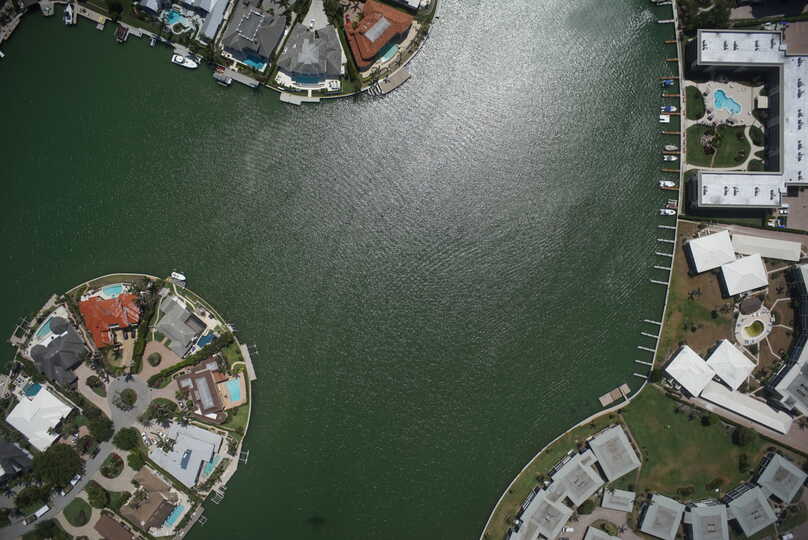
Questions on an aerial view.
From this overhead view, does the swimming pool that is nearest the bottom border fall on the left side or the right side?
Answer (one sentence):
The swimming pool that is nearest the bottom border sits on the left side.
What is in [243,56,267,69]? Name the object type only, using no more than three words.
swimming pool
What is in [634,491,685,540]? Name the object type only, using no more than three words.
building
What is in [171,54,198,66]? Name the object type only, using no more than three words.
boat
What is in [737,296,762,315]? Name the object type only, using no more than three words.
gazebo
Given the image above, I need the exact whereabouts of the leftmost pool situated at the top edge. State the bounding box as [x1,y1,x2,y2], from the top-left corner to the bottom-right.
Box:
[167,10,185,24]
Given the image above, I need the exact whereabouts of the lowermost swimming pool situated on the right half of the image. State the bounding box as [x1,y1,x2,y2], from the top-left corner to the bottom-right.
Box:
[744,320,765,337]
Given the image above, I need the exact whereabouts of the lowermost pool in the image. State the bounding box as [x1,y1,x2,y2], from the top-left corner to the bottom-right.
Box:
[164,504,185,528]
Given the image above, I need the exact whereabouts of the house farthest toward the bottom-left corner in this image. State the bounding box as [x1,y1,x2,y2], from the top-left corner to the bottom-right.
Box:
[0,441,37,475]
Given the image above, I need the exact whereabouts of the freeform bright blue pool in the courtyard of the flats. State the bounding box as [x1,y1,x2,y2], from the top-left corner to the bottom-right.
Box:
[714,88,742,113]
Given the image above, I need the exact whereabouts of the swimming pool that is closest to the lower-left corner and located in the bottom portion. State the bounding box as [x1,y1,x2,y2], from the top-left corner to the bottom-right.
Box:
[23,383,42,397]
